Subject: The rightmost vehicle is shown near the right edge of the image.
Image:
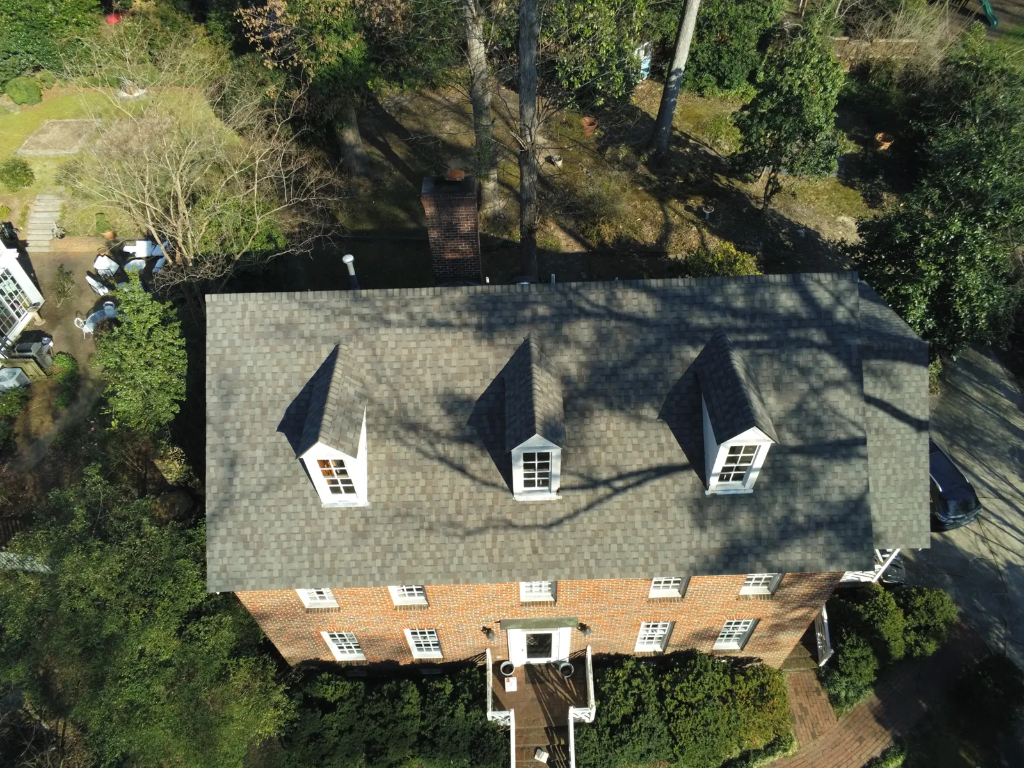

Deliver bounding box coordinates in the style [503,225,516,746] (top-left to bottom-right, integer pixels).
[930,431,984,531]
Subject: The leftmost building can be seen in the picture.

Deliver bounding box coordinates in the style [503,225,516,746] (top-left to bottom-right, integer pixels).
[0,233,44,337]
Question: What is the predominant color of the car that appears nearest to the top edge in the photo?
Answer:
black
